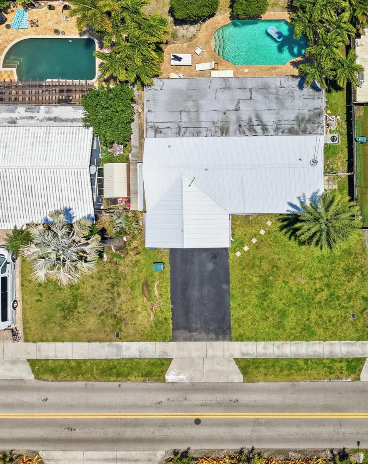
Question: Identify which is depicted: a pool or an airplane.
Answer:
pool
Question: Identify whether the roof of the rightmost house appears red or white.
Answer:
white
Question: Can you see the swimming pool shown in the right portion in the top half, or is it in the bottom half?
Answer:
top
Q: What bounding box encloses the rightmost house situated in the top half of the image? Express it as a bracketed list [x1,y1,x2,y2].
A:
[136,76,325,248]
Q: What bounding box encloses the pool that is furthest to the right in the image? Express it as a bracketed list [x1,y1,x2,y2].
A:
[208,16,309,67]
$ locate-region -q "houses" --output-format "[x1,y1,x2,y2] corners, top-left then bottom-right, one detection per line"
[136,76,325,248]
[0,82,104,229]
